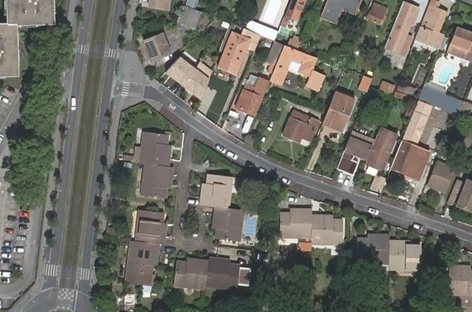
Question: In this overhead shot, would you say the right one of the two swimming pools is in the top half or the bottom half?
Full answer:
The right one of the two swimming pools sits in the top half of the picture.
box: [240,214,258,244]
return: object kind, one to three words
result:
swimming pool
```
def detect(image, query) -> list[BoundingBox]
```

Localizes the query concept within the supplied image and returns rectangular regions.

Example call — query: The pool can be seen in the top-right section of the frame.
[432,54,470,88]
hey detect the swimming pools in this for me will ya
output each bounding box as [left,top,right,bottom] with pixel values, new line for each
[432,54,470,88]
[240,214,258,244]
